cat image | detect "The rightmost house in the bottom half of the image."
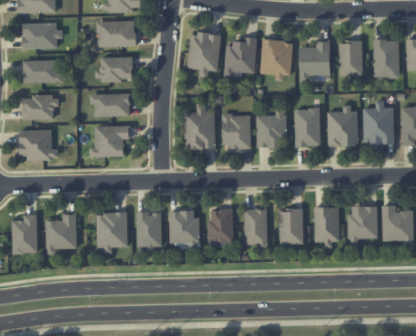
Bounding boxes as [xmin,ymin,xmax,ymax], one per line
[382,207,414,242]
